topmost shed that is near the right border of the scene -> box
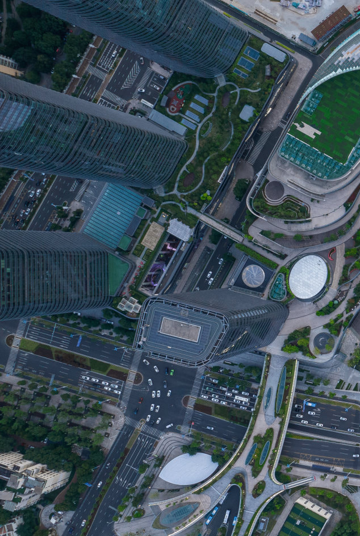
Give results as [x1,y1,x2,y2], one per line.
[311,5,353,41]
